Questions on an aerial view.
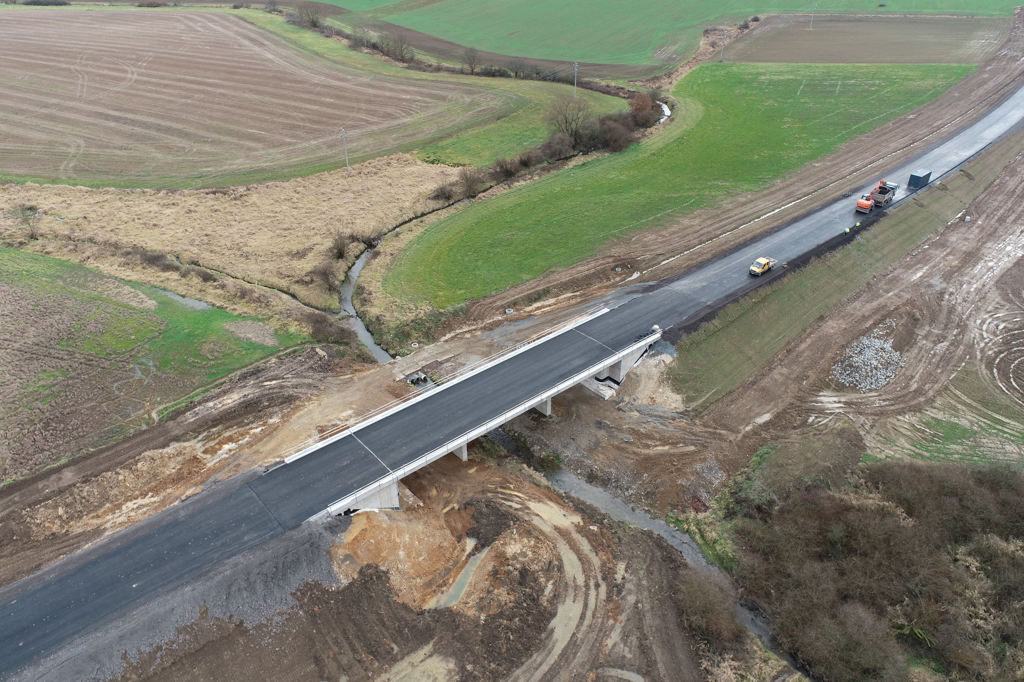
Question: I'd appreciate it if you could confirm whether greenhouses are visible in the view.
No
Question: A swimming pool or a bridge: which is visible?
bridge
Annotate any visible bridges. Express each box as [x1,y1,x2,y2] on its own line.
[281,301,660,518]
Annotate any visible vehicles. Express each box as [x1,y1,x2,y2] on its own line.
[857,179,886,213]
[749,257,779,275]
[872,182,903,206]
